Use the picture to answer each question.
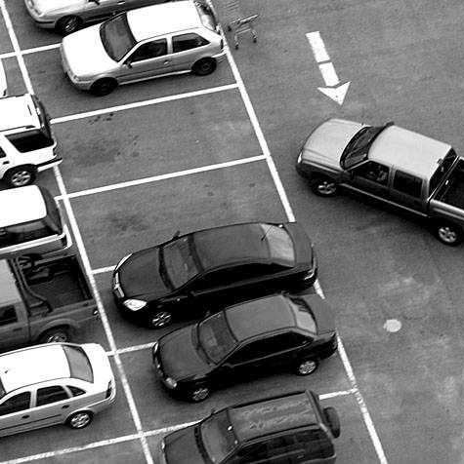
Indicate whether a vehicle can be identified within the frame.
Yes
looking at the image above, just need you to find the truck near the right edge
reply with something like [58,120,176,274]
[296,119,464,246]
